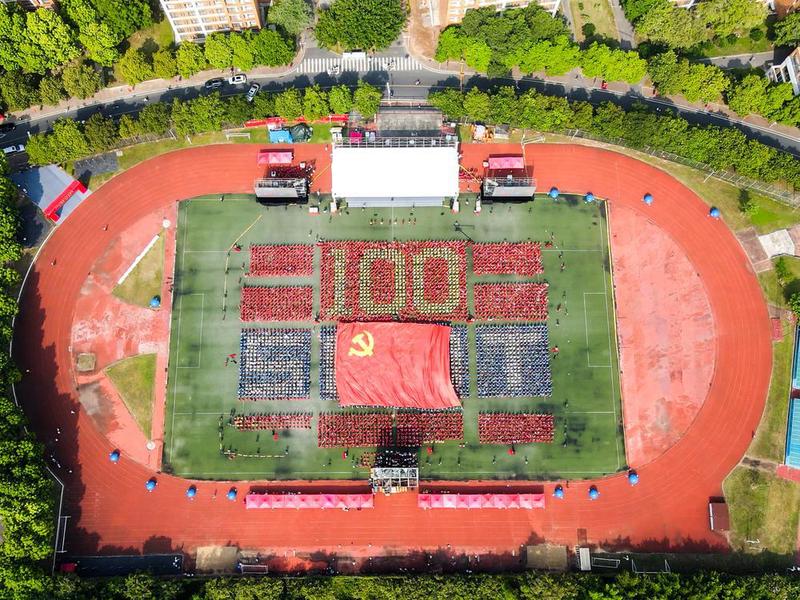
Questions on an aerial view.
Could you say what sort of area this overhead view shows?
sports ground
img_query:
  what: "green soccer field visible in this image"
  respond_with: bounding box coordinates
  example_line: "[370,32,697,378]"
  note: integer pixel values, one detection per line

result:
[162,193,629,481]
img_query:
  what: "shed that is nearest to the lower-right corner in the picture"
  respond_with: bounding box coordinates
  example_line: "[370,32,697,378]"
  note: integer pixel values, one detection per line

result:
[706,501,730,532]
